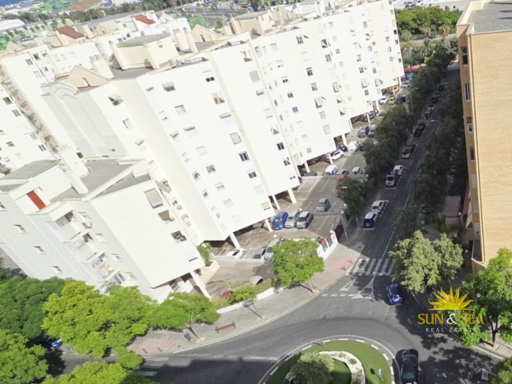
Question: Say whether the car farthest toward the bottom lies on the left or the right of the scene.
right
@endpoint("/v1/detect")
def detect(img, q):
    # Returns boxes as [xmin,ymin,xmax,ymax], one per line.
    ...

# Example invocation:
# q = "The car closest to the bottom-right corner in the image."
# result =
[396,353,422,384]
